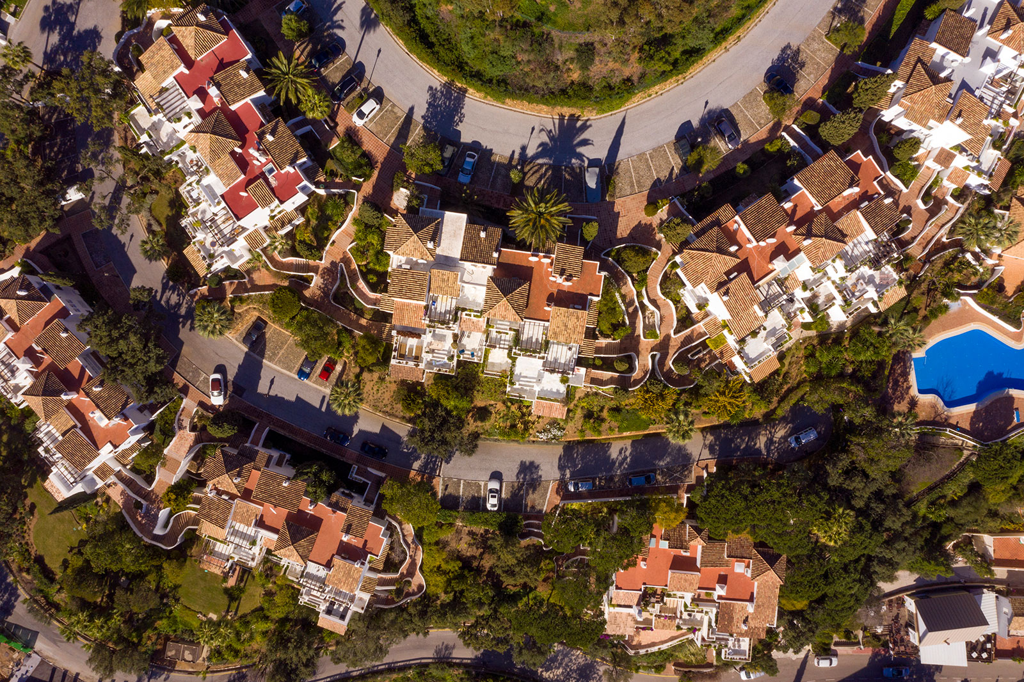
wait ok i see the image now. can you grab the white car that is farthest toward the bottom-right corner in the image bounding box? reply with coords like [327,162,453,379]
[811,654,839,669]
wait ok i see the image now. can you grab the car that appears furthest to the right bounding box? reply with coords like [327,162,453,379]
[879,664,909,680]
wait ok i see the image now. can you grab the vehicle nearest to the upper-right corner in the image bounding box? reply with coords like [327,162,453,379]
[761,68,794,95]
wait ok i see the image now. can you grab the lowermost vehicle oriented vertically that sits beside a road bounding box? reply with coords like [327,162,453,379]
[486,478,501,510]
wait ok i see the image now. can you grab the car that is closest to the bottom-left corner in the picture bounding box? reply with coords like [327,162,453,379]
[209,373,226,405]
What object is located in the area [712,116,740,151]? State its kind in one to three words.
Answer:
car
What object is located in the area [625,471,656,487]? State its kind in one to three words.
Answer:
car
